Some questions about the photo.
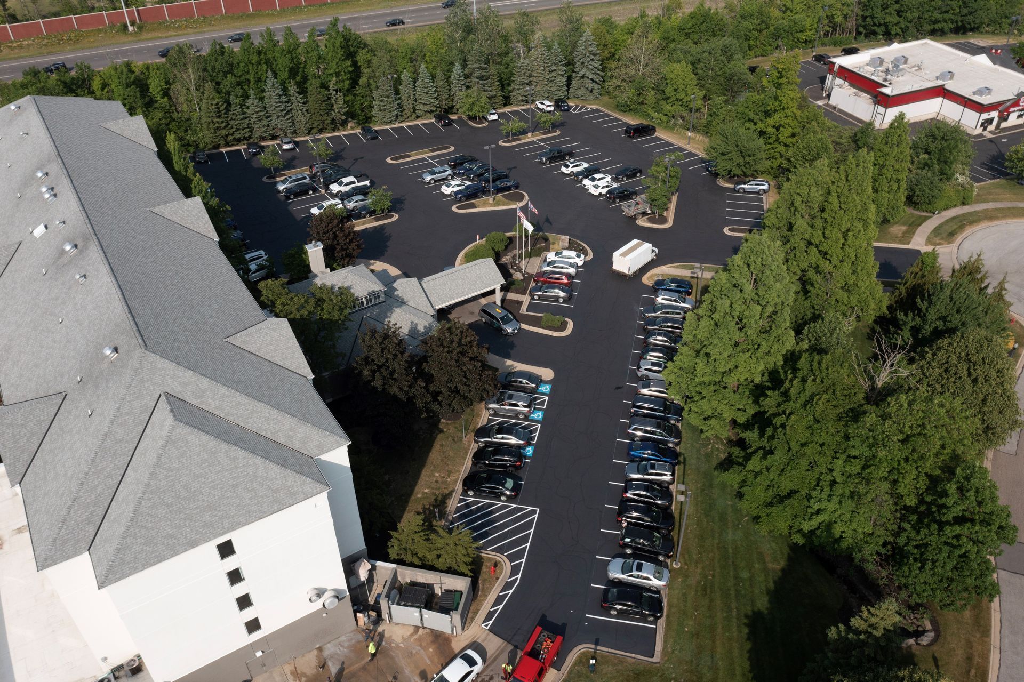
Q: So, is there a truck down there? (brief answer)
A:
Yes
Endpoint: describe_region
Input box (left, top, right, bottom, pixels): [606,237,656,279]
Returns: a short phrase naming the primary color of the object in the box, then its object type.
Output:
white truck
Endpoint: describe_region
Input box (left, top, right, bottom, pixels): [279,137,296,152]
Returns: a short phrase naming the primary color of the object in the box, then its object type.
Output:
gray car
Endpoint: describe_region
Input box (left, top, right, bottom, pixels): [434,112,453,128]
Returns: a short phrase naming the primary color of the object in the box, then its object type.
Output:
black car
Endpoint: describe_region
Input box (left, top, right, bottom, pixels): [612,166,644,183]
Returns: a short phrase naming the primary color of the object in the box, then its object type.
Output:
black car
